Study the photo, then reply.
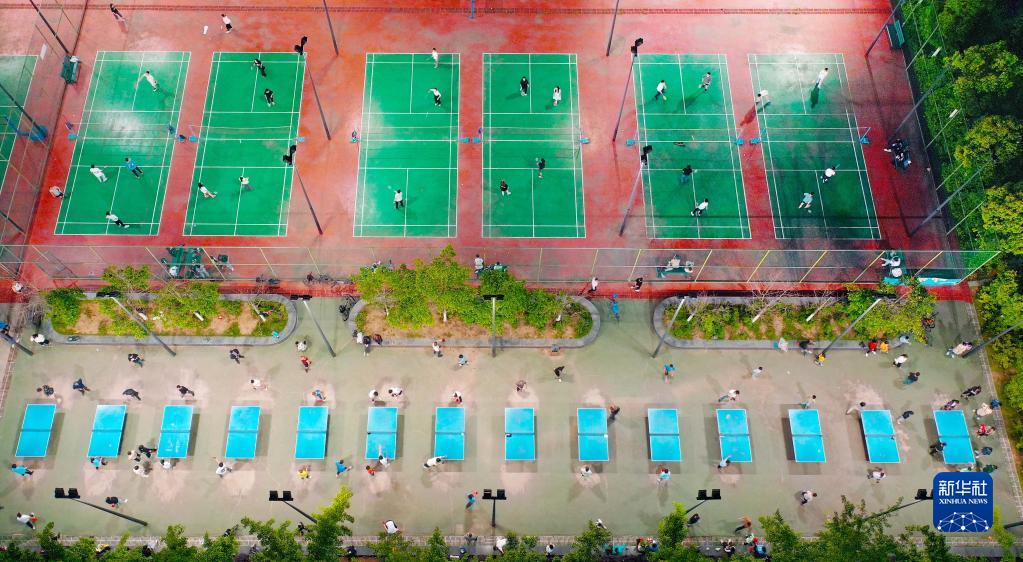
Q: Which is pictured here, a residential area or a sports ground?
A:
sports ground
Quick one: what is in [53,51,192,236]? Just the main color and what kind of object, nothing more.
green sports court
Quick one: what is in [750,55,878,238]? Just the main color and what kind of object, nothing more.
green sports court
